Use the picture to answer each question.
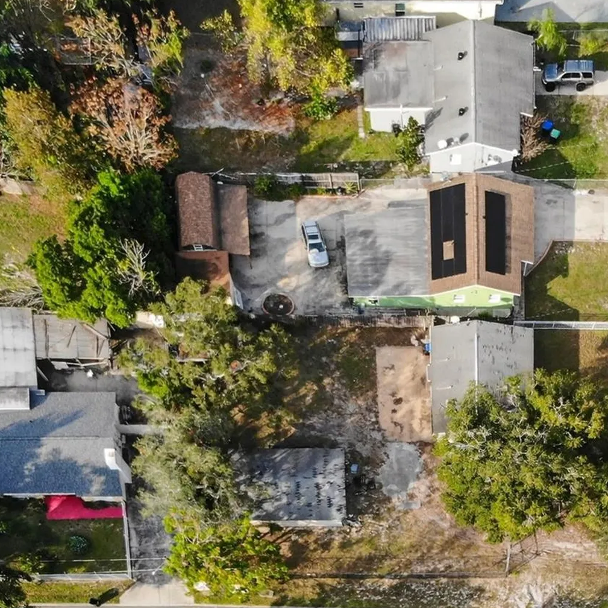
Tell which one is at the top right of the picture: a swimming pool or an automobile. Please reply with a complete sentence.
Looking at the top right of the picture, you will find an automobile.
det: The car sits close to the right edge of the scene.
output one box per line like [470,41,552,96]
[544,60,596,93]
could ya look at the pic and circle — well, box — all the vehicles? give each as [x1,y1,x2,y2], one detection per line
[544,60,596,93]
[301,217,330,271]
